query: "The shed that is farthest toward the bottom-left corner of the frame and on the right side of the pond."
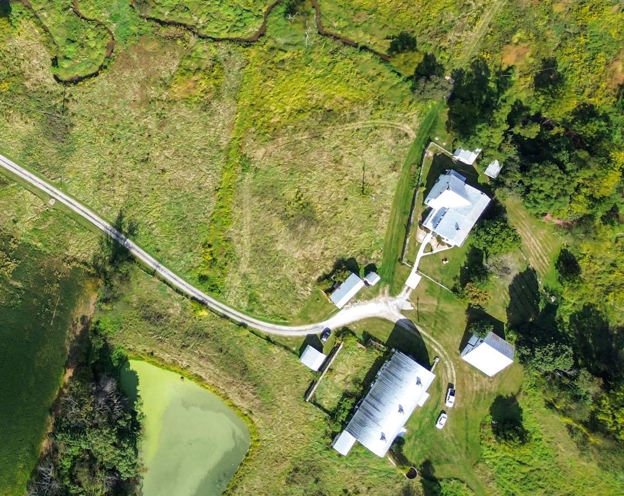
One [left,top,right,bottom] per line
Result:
[298,343,325,370]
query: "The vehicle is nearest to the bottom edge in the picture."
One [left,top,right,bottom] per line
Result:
[435,411,450,433]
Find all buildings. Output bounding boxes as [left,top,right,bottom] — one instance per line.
[451,145,479,166]
[328,273,364,307]
[298,343,325,370]
[458,326,515,376]
[332,347,435,455]
[414,168,491,249]
[481,161,498,177]
[362,271,379,287]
